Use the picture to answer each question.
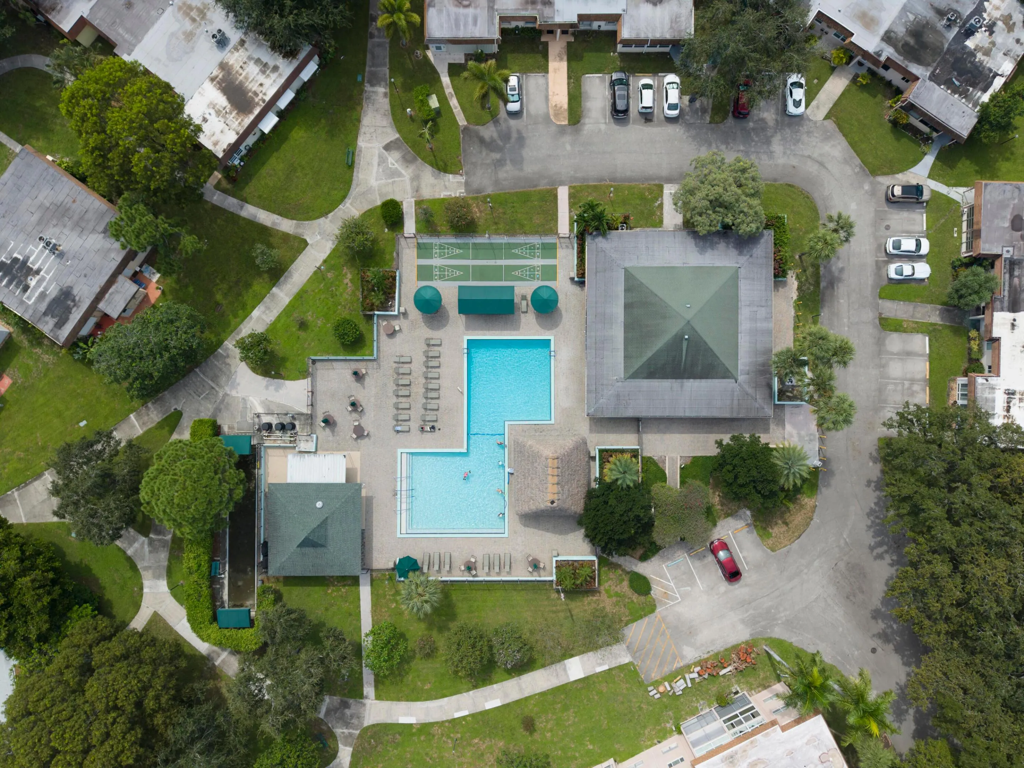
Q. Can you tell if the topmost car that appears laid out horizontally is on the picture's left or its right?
right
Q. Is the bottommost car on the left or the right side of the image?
right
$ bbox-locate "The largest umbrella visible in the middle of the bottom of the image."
[396,554,420,579]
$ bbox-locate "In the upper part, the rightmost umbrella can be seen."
[531,286,558,314]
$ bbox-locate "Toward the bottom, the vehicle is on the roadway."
[710,537,740,582]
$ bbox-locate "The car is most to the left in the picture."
[504,74,523,115]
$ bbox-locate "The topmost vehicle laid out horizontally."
[884,183,929,204]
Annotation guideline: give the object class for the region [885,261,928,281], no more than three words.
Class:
car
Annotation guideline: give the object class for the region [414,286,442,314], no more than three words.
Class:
umbrella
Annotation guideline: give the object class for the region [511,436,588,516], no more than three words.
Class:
shed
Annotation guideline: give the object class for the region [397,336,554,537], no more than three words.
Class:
swimming pool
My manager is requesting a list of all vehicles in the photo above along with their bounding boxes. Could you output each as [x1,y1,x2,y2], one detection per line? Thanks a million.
[610,73,630,119]
[710,537,740,582]
[662,74,682,119]
[884,183,929,204]
[731,79,752,120]
[637,78,655,114]
[784,75,806,117]
[504,74,523,115]
[883,236,928,256]
[885,261,928,281]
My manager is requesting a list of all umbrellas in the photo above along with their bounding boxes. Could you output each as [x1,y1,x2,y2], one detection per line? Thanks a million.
[531,286,558,314]
[414,286,442,314]
[396,554,420,579]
